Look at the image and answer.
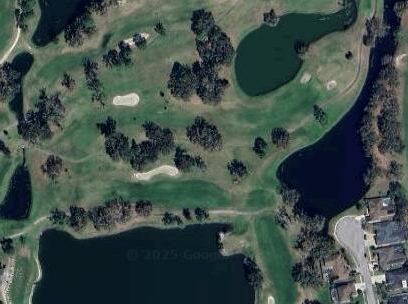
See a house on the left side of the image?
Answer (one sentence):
No, no house can be made out on the left side of the image.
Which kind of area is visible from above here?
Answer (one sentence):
This image shows a golf course.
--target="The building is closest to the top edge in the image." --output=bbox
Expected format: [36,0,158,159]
[369,196,395,222]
